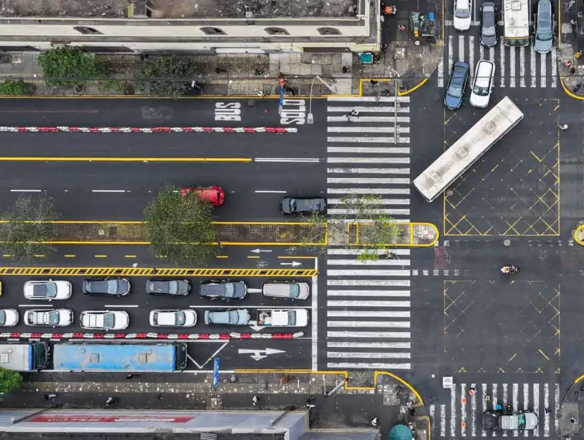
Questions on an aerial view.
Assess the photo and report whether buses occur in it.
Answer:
Yes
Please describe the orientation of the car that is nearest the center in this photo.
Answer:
from side to side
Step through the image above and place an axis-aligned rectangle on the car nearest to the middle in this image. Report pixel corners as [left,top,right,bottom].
[280,195,327,216]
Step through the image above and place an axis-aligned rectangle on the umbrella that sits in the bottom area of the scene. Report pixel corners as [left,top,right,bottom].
[390,424,412,440]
